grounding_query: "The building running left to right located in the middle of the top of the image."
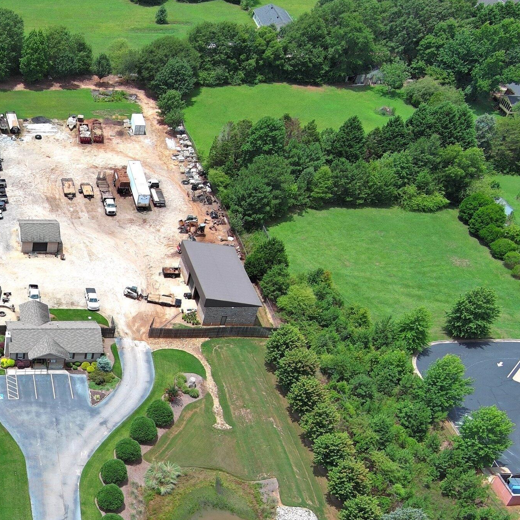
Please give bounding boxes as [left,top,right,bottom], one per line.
[241,3,302,34]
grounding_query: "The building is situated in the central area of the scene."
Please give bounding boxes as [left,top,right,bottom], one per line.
[181,240,262,325]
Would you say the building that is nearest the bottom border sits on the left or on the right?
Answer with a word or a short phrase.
left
